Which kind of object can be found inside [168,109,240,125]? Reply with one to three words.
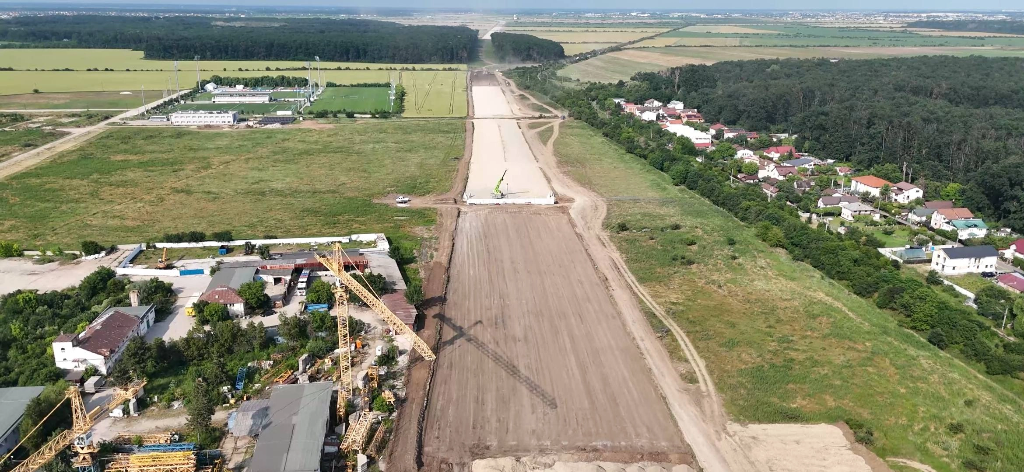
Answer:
building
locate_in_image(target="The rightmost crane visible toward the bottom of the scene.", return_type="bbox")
[317,244,438,407]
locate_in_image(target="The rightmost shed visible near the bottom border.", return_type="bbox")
[252,380,334,472]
